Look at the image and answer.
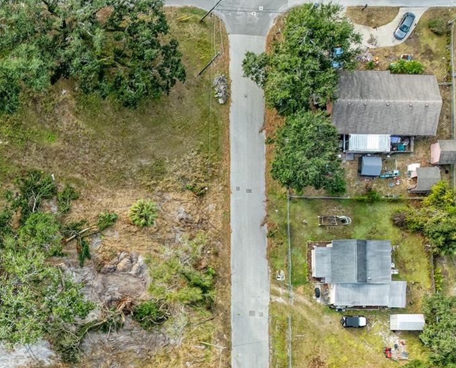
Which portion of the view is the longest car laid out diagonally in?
top right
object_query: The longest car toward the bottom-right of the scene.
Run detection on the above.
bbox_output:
[344,315,369,328]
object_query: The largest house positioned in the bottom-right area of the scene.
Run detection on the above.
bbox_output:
[308,240,407,308]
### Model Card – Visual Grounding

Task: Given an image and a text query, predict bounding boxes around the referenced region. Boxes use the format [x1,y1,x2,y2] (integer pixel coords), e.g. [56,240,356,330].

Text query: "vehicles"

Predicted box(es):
[395,9,422,40]
[344,315,369,328]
